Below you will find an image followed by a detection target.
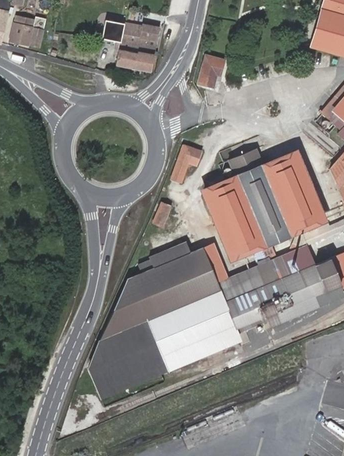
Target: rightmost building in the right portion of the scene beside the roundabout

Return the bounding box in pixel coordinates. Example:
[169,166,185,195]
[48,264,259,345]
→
[203,150,328,262]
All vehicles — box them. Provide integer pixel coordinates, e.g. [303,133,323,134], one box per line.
[166,28,172,39]
[10,55,25,64]
[316,54,322,65]
[316,414,344,437]
[86,312,93,323]
[102,48,108,60]
[105,256,110,266]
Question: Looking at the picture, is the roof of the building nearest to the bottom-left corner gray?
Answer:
Yes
